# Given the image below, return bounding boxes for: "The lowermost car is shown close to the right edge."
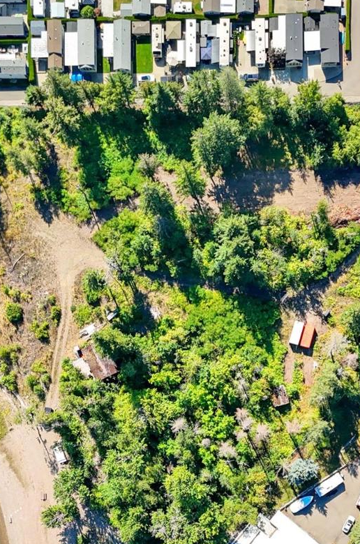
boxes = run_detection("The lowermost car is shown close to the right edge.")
[340,513,356,533]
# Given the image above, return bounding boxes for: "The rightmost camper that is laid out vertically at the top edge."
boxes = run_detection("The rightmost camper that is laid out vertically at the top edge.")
[252,19,268,73]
